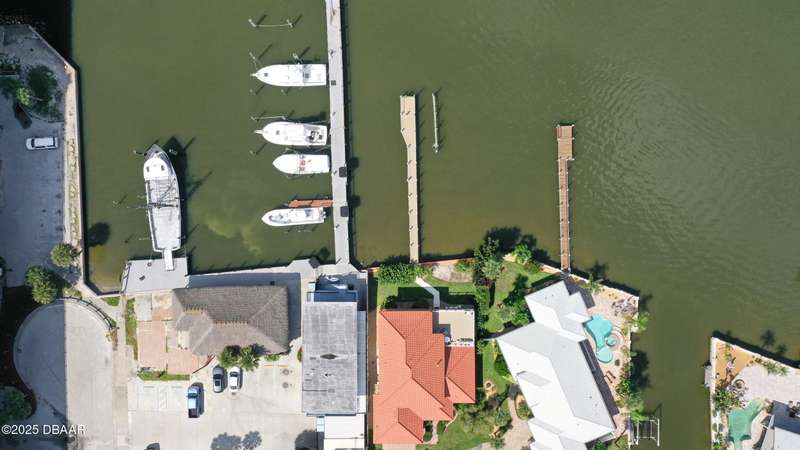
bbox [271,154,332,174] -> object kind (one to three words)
boat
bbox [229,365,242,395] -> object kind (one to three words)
vehicle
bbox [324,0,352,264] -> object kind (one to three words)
pier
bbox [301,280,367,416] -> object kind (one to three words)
building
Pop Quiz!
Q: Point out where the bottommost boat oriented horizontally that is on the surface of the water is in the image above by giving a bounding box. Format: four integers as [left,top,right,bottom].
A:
[261,207,329,226]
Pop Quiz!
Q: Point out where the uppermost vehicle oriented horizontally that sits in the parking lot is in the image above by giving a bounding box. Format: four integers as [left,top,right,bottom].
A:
[27,135,59,149]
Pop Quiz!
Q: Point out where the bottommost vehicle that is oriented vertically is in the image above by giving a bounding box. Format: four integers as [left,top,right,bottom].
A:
[188,383,203,419]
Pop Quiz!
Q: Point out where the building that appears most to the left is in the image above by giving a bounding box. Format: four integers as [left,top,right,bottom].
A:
[172,286,288,355]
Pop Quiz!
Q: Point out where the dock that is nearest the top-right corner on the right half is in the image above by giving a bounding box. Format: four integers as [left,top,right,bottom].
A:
[555,124,576,273]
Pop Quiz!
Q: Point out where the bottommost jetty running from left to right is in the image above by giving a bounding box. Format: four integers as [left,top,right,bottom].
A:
[120,258,191,294]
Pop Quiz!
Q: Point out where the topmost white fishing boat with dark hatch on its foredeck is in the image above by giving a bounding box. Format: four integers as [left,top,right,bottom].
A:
[249,58,327,87]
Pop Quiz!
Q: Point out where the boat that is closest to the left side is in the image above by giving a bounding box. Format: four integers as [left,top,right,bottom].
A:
[137,143,186,250]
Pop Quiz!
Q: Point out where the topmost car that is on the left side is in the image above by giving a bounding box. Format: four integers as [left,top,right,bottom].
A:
[13,104,38,131]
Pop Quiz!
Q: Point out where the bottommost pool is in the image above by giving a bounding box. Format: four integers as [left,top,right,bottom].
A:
[727,398,764,450]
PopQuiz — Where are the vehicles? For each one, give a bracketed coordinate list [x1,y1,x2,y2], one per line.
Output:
[229,365,242,395]
[211,365,225,393]
[188,383,203,419]
[13,104,38,131]
[27,135,59,149]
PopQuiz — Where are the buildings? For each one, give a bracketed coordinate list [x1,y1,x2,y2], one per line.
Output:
[751,416,800,450]
[497,281,614,450]
[372,307,476,445]
[172,286,288,355]
[301,280,367,416]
